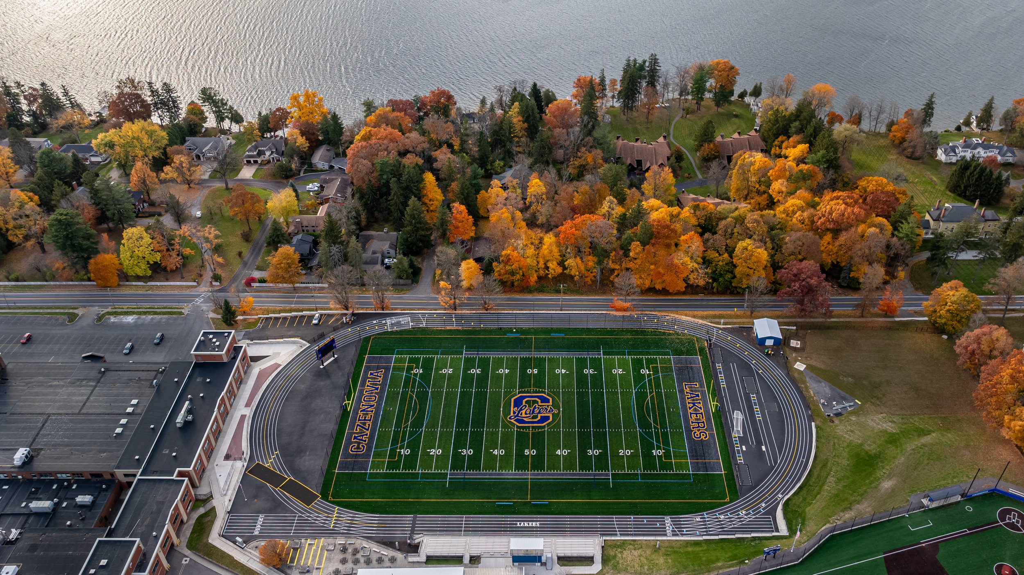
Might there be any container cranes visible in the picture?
No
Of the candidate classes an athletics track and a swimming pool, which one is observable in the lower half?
athletics track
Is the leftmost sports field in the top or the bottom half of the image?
bottom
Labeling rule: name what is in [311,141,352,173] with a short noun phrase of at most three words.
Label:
house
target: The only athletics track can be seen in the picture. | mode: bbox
[219,313,814,540]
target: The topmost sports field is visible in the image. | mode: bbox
[320,327,741,516]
